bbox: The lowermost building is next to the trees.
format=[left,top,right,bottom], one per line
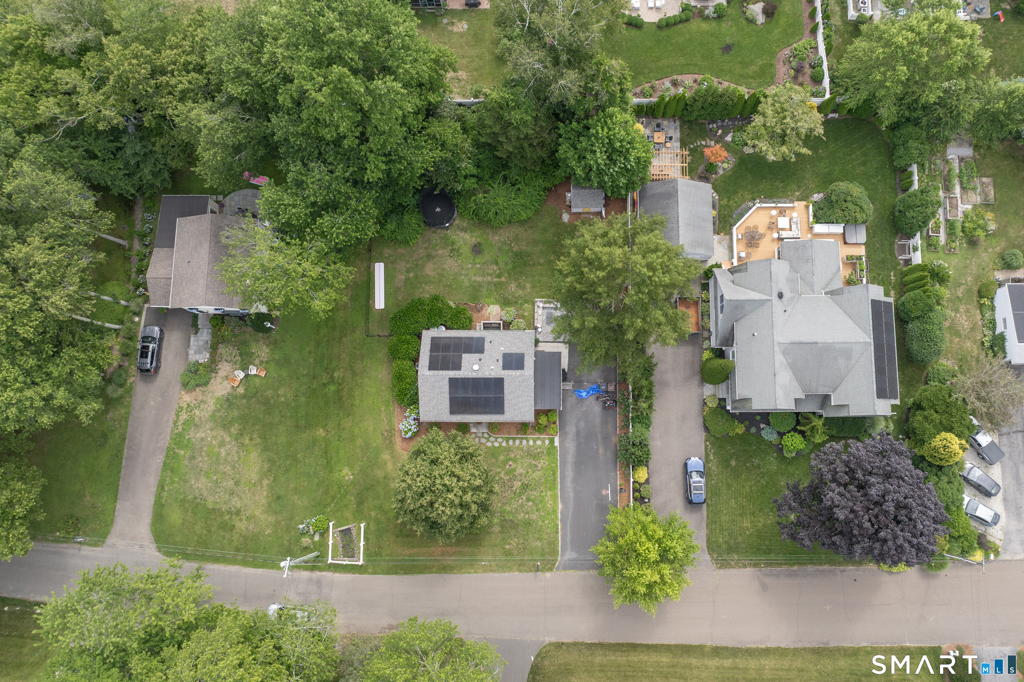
[419,330,562,423]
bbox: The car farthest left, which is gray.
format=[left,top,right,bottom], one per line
[135,326,163,374]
